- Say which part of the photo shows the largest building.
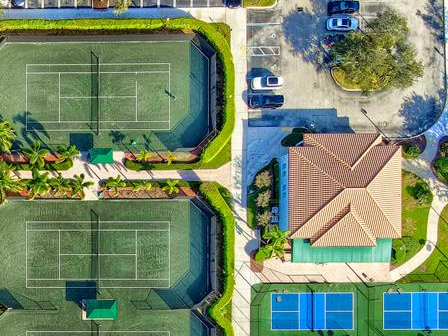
right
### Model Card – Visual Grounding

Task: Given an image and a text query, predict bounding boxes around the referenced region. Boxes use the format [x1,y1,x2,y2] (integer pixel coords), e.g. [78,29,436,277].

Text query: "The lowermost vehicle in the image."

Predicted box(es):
[249,92,284,107]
